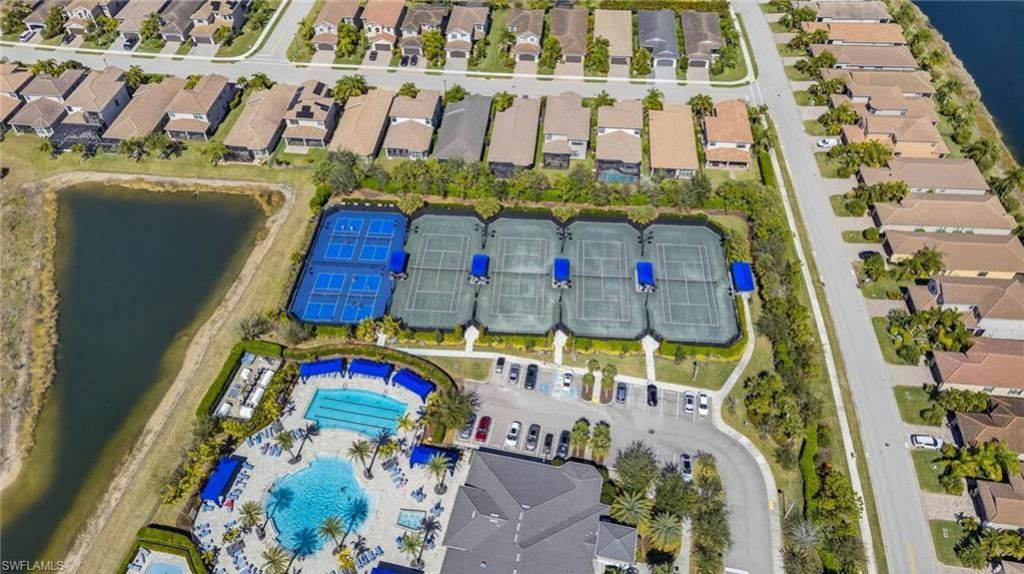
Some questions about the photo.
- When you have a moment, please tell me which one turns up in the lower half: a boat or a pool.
pool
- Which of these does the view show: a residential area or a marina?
residential area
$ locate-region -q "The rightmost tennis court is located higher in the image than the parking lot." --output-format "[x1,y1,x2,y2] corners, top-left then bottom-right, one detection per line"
[643,225,738,343]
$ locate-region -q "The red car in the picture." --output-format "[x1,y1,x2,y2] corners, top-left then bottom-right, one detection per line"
[477,417,491,441]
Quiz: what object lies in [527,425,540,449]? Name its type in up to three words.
vehicle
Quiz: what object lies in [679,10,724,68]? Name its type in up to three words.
house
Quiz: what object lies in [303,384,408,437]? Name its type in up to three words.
swimming pool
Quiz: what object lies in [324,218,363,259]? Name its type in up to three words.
sports court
